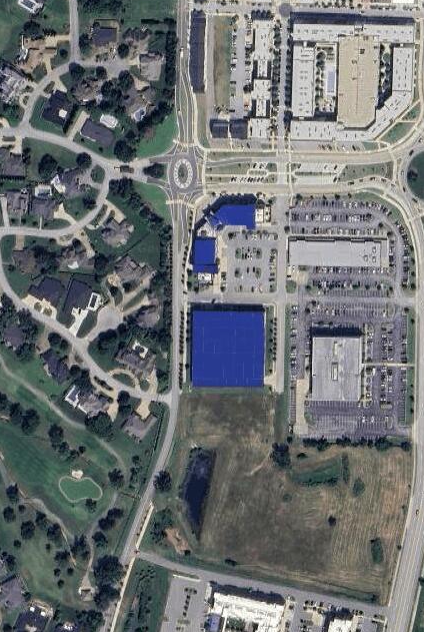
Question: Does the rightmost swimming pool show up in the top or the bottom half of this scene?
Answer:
top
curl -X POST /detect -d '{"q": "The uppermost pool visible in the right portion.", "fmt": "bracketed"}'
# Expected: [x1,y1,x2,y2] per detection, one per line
[316,44,337,116]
